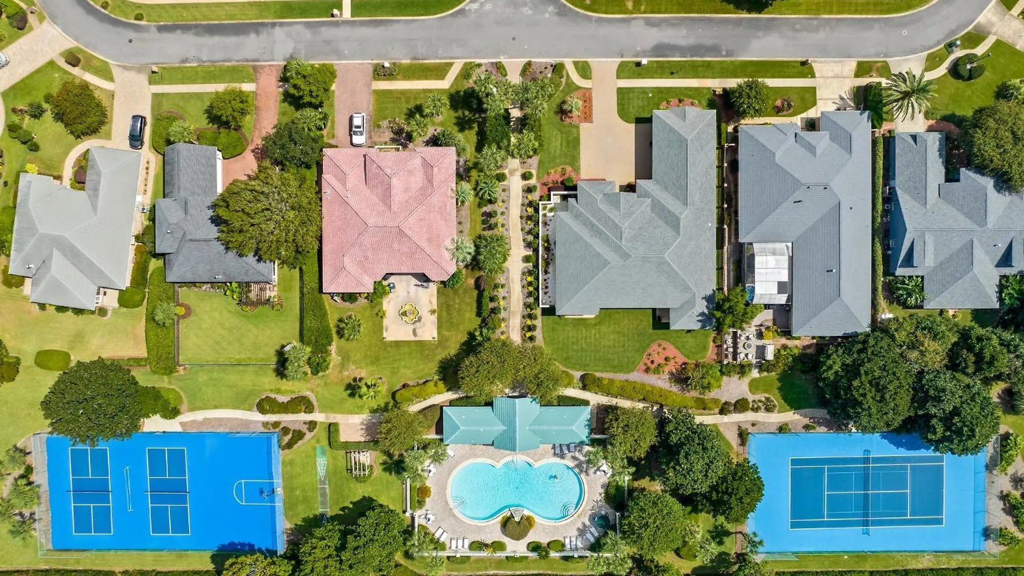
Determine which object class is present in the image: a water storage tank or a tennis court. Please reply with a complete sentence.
Of the two, only a tennis court appears.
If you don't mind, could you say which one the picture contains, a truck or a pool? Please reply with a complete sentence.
I can see a pool in this picture.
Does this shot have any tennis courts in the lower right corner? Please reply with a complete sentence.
Yes, I can see a tennis court in the lower right corner.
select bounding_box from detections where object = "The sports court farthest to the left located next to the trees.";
[46,431,284,551]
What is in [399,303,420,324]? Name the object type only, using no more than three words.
fountain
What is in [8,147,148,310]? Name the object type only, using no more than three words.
house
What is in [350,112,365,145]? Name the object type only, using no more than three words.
car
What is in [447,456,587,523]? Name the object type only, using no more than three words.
swimming pool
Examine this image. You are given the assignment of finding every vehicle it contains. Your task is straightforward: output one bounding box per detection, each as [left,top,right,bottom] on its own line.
[0,48,11,64]
[126,115,144,148]
[350,112,365,145]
